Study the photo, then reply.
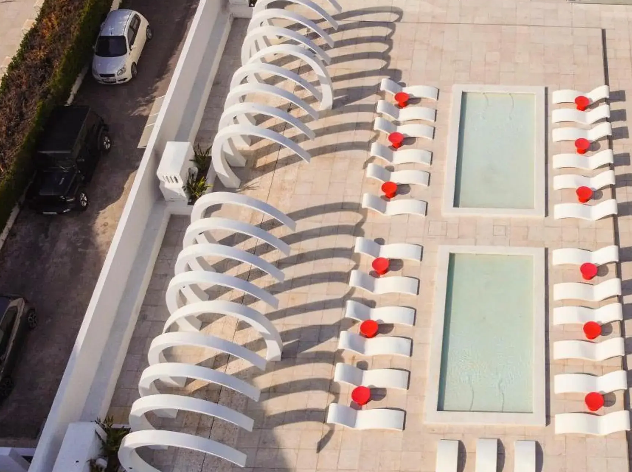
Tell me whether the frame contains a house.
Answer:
No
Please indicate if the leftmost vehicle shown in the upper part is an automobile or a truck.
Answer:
automobile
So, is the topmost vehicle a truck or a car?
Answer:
car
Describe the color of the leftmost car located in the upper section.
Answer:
black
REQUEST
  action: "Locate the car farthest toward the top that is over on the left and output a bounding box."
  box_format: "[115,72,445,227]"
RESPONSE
[90,10,151,83]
